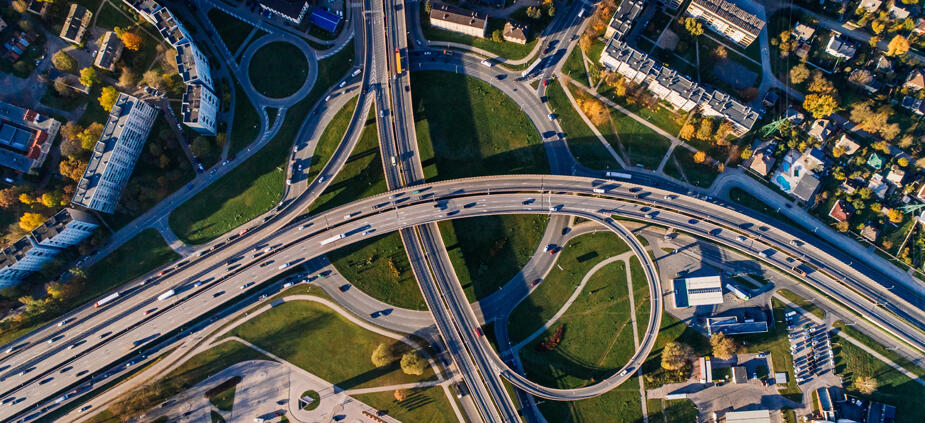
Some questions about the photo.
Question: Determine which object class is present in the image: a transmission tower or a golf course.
transmission tower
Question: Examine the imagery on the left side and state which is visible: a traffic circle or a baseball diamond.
traffic circle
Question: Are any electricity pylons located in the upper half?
Yes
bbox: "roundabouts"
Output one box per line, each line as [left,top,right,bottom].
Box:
[240,33,317,107]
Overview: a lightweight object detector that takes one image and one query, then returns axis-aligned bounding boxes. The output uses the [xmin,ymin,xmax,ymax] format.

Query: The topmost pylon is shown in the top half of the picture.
[754,117,790,146]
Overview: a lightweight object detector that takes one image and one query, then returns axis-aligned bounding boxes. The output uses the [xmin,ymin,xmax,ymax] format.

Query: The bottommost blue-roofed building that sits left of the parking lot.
[704,315,769,335]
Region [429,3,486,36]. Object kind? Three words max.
house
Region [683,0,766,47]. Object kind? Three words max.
building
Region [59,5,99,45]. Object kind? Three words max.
house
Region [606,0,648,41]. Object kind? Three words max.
building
